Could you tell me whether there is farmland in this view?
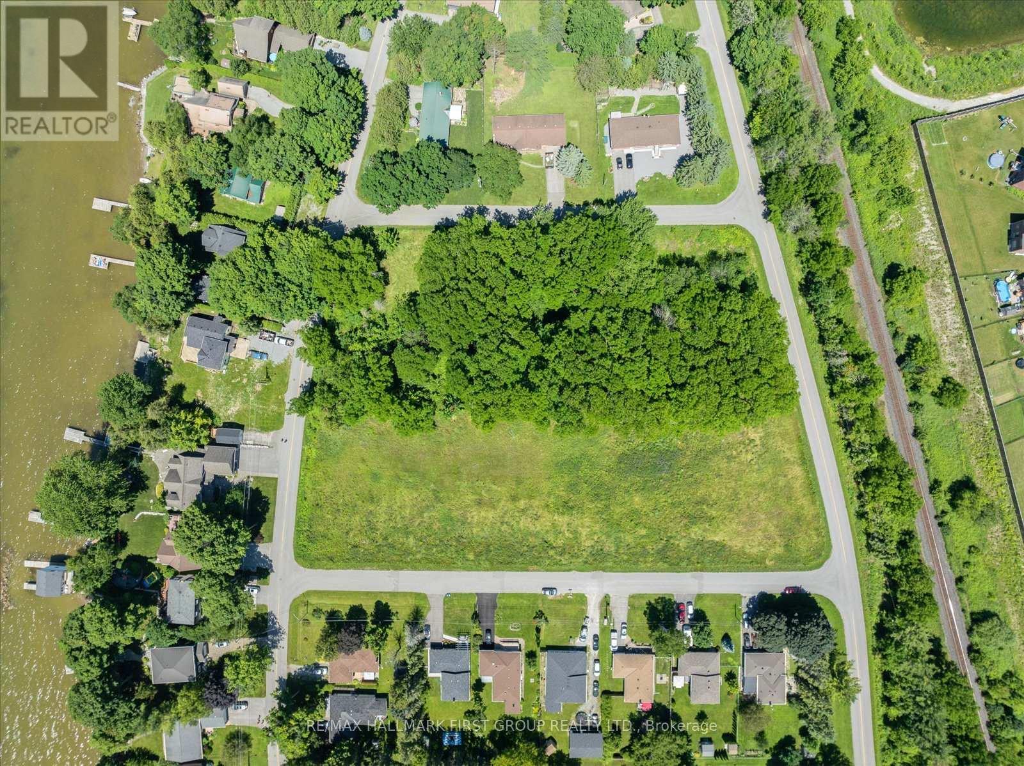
No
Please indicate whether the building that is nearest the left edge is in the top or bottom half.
bottom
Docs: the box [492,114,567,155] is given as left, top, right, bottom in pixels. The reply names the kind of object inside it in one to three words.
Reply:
house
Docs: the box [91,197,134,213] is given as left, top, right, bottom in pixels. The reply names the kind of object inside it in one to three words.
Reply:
pier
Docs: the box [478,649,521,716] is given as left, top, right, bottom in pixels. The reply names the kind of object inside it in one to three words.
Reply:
house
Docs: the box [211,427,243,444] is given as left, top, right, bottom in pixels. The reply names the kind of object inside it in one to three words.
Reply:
building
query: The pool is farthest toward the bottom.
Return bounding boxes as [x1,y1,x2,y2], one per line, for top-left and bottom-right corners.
[996,279,1011,303]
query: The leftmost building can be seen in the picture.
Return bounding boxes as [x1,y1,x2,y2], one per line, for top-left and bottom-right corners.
[36,570,66,598]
